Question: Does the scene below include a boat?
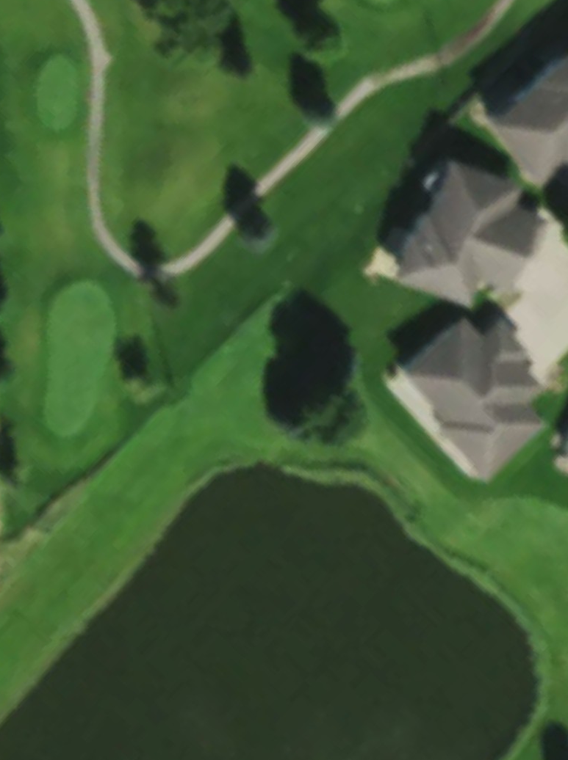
No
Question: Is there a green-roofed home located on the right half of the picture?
No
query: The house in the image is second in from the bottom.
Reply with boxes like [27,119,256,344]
[398,162,543,306]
